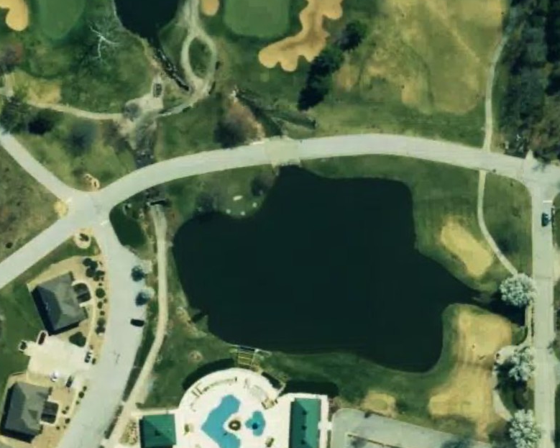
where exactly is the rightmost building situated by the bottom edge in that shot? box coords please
[291,399,321,448]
